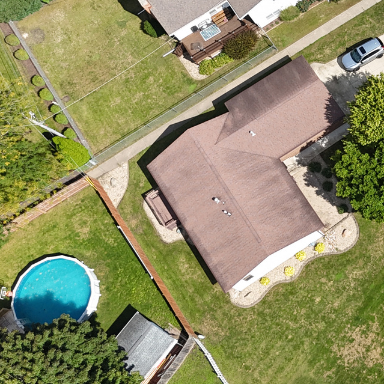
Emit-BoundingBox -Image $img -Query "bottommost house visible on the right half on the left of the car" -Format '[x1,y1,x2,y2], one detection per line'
[146,56,342,293]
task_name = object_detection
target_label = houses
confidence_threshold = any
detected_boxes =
[146,56,342,293]
[136,0,302,53]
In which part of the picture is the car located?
top right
